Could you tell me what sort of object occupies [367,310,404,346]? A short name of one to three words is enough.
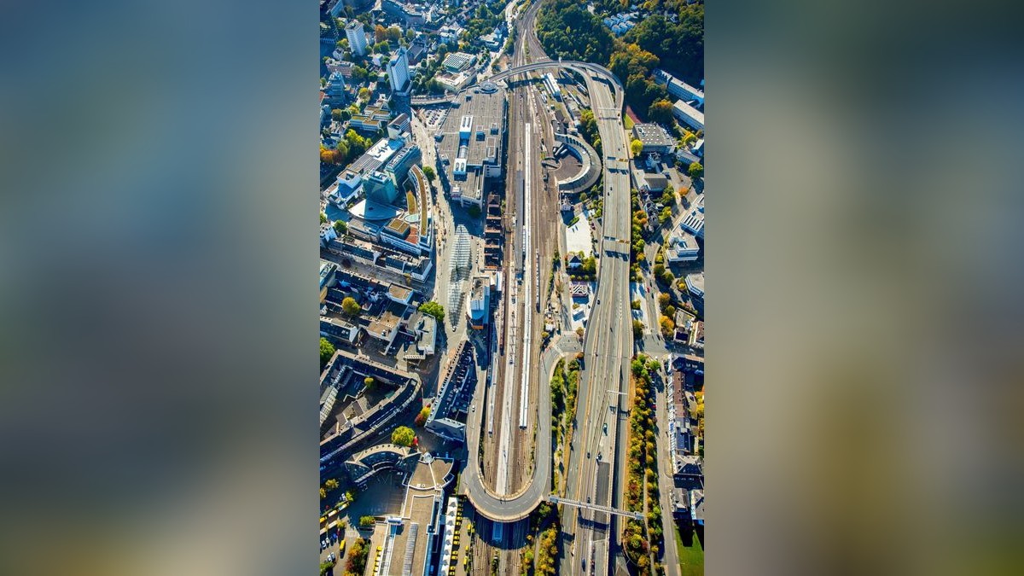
building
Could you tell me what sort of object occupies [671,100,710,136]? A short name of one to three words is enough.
building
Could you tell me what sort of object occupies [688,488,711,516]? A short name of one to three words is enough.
house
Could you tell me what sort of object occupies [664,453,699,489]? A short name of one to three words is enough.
house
